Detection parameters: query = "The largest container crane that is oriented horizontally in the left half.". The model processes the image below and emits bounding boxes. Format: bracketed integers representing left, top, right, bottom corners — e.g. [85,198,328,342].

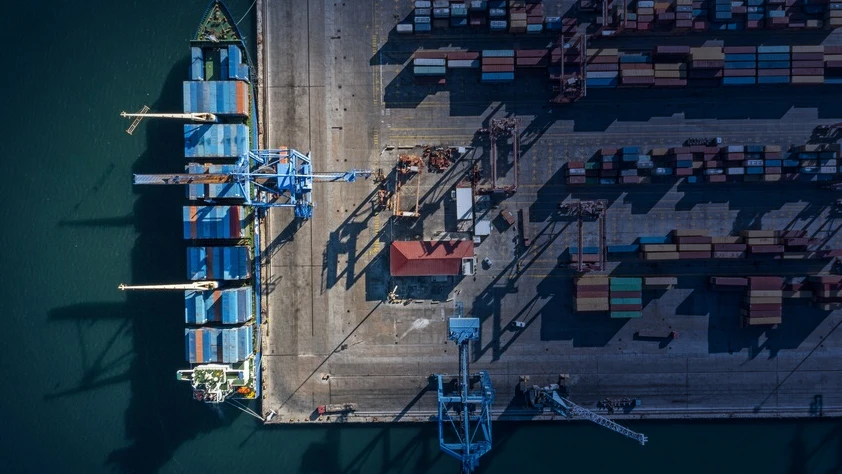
[132,148,372,219]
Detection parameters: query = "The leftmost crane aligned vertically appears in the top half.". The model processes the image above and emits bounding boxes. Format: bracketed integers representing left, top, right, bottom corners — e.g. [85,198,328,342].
[396,149,424,219]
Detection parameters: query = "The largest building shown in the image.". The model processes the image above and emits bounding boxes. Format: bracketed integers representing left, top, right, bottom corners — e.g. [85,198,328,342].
[390,239,475,277]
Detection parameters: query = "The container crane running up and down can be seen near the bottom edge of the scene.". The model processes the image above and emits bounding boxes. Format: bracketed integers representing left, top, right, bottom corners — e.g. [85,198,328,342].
[430,298,502,474]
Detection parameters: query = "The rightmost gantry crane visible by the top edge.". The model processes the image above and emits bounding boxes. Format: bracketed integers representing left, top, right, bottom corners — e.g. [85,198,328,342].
[589,0,631,44]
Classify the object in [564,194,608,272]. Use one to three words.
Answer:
container crane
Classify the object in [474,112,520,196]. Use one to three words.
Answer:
container crane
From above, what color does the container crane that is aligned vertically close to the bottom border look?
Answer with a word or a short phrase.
blue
